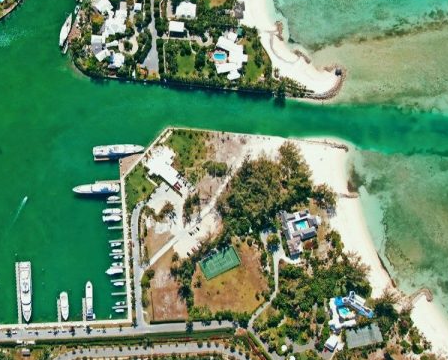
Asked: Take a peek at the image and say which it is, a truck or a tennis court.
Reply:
tennis court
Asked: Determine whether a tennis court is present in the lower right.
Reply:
Yes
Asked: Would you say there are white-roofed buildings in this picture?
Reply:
Yes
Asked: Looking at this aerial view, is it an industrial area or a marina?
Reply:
marina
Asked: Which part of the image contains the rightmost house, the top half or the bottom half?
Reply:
bottom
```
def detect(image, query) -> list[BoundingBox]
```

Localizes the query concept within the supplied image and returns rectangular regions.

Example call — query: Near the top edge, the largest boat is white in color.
[59,14,74,48]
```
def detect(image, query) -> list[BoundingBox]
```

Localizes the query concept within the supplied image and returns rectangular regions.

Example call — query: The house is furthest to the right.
[350,292,377,319]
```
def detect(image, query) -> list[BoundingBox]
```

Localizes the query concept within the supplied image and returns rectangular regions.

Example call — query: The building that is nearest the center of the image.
[149,143,181,190]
